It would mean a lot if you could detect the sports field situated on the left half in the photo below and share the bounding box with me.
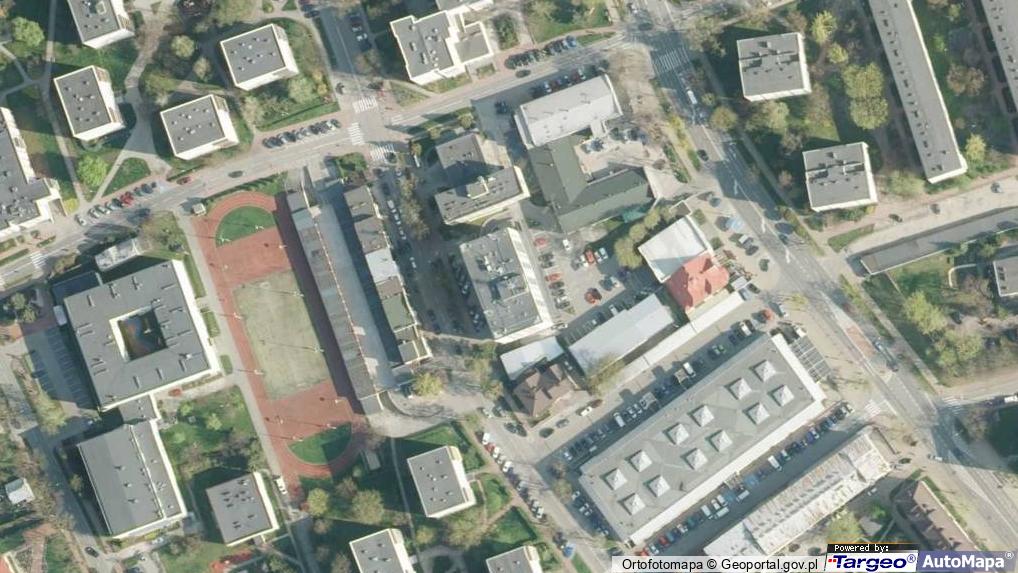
[194,190,383,480]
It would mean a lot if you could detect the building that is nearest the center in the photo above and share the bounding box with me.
[459,229,551,341]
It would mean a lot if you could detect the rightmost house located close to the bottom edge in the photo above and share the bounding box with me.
[898,481,998,573]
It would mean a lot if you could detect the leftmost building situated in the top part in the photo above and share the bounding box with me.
[0,106,63,239]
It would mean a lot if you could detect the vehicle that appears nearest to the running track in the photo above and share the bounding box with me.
[274,475,288,495]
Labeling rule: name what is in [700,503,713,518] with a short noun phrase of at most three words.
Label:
vehicle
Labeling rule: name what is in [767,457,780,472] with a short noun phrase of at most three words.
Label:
vehicle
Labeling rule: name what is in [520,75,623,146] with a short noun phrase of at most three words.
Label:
building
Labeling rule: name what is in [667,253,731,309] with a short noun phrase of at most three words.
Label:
house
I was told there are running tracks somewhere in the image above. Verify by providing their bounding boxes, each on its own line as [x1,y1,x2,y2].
[194,190,383,480]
